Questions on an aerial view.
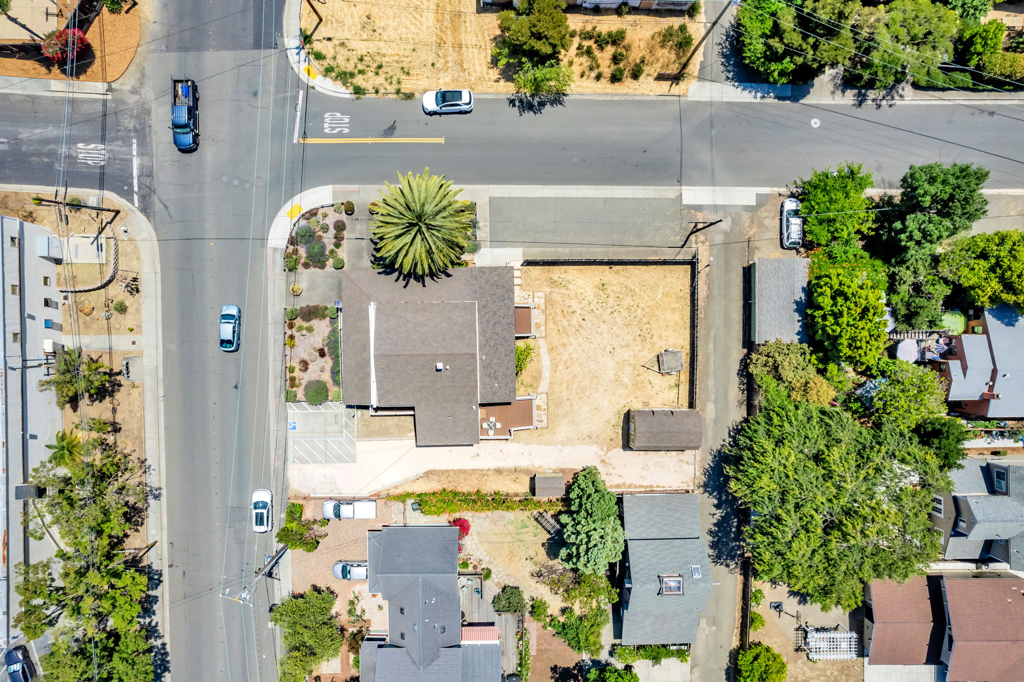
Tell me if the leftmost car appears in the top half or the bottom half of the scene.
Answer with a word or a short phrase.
bottom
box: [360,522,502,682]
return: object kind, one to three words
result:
house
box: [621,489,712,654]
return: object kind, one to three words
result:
building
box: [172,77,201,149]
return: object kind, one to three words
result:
truck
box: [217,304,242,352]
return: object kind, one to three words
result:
car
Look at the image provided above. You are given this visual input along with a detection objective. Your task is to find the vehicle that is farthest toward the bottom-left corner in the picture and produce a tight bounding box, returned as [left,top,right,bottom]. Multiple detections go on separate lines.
[5,643,41,682]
